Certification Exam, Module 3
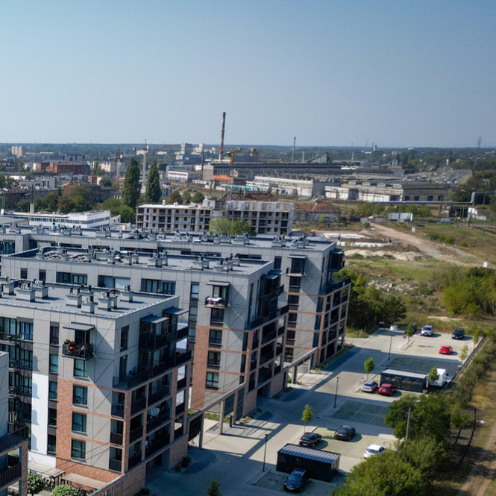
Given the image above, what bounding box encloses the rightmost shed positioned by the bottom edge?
[276,442,340,483]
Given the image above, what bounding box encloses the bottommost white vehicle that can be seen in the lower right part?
[360,442,384,460]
